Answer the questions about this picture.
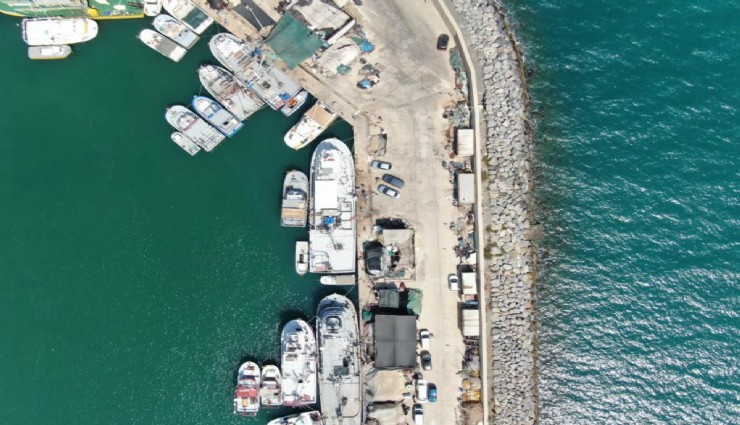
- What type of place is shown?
port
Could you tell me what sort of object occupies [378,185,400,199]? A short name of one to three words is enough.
vehicle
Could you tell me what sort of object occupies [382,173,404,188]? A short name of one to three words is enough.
car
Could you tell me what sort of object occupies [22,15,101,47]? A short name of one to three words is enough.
vessel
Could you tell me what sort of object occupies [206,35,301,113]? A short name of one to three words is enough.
boat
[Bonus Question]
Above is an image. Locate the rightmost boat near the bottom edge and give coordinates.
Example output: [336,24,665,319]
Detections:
[314,293,363,425]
